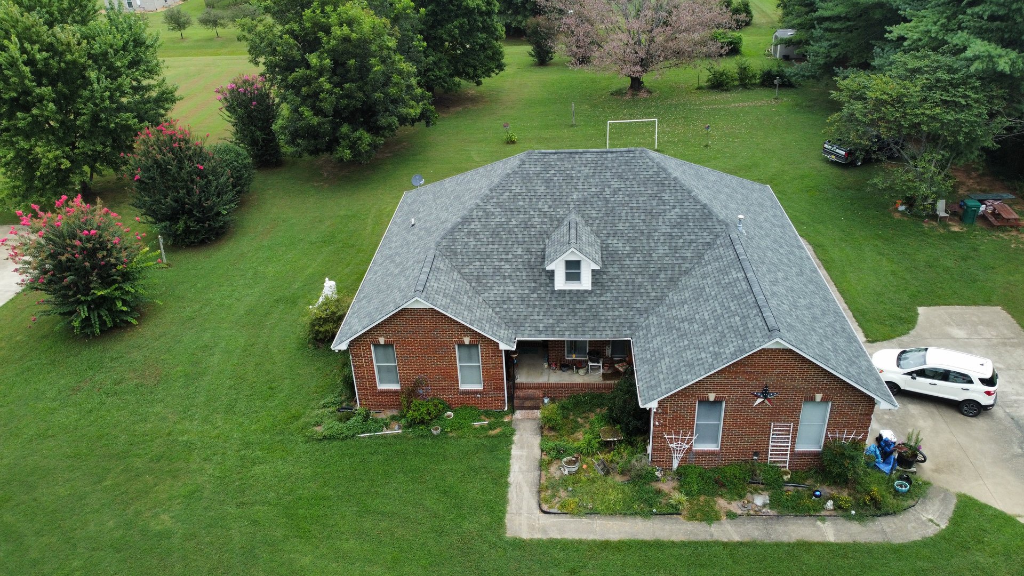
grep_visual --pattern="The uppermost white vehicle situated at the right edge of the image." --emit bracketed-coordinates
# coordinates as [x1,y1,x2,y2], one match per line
[873,346,998,413]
